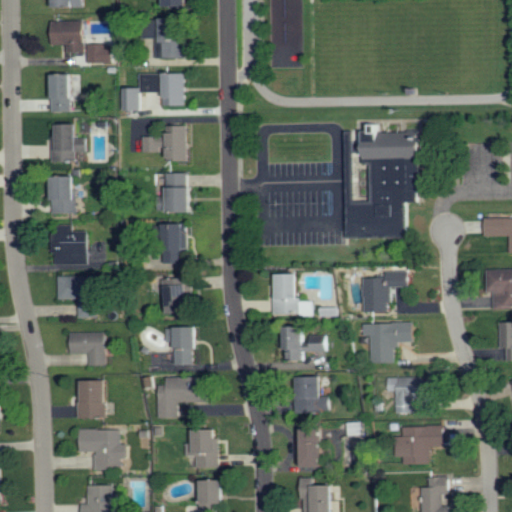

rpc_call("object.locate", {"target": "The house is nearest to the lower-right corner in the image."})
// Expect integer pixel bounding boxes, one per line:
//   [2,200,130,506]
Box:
[420,476,450,512]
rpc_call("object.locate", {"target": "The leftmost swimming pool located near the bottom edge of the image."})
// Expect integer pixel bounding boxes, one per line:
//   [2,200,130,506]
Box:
[128,478,150,512]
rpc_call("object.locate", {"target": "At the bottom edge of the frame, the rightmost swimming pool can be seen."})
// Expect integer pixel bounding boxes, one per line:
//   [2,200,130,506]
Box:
[164,480,196,500]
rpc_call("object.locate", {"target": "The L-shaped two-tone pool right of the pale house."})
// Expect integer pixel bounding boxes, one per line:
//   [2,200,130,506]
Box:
[298,272,336,306]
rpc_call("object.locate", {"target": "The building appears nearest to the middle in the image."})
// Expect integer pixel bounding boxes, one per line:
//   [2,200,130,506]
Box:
[272,271,299,316]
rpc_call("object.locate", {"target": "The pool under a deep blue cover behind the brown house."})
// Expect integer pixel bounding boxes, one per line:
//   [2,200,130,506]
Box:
[82,20,111,44]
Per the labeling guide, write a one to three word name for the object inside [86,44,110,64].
building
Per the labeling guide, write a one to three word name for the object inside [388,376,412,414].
house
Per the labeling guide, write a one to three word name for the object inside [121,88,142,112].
building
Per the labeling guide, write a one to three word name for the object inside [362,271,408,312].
house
